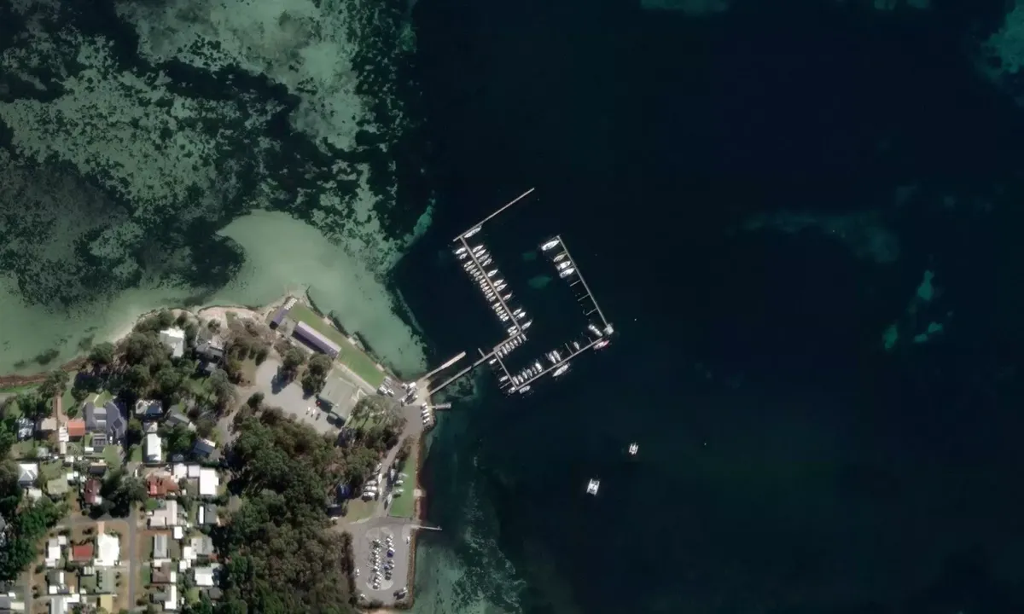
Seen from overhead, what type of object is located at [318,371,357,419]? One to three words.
building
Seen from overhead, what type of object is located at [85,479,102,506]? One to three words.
house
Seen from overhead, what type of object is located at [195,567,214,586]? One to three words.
house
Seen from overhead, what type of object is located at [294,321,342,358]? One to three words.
shed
